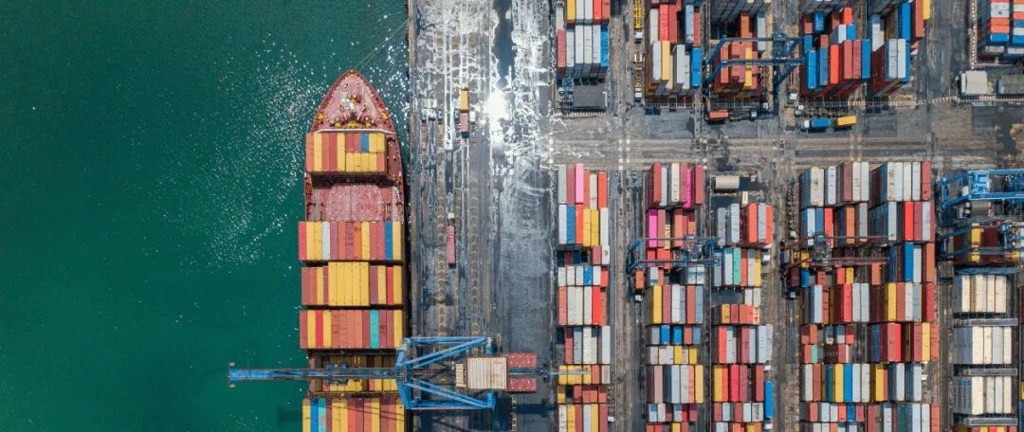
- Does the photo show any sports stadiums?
No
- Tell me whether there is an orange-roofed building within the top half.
No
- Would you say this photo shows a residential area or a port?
port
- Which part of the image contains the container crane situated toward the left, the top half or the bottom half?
bottom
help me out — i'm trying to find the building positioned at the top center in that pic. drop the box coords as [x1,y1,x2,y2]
[573,81,607,108]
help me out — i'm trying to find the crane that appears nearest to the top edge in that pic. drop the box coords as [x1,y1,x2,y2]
[703,36,804,91]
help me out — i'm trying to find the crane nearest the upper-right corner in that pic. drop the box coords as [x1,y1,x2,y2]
[940,169,1024,213]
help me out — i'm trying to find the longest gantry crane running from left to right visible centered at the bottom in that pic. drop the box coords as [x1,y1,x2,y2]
[227,332,590,414]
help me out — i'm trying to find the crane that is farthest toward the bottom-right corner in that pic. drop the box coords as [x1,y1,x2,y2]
[940,224,1024,261]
